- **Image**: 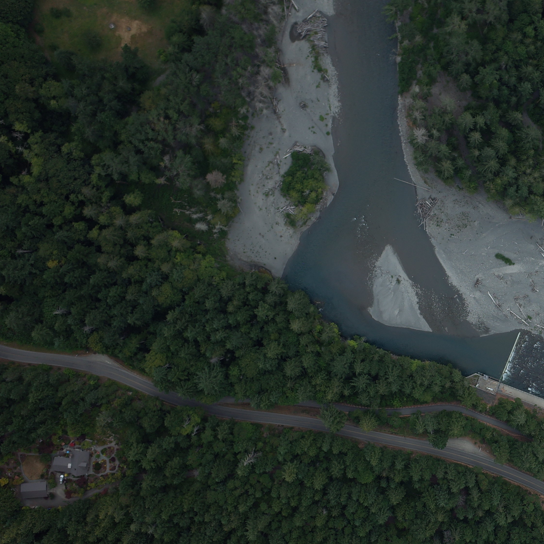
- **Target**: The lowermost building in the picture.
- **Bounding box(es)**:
[19,481,49,498]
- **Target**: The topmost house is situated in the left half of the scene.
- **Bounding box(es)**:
[51,447,91,476]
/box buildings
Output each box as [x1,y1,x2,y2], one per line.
[19,481,49,498]
[51,447,91,476]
